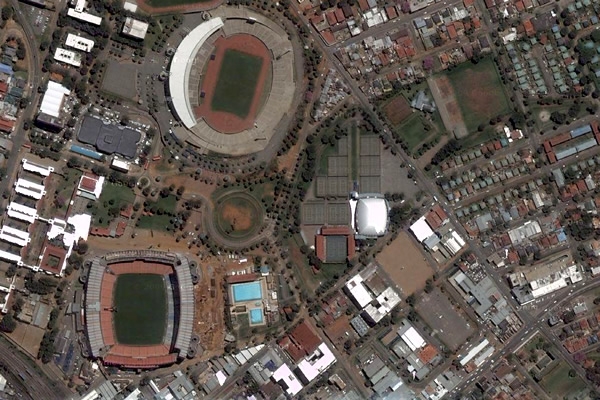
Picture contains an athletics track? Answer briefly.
Yes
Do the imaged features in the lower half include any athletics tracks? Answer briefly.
No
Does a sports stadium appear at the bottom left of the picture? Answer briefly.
Yes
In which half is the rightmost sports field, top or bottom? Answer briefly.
top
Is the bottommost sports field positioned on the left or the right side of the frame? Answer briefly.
left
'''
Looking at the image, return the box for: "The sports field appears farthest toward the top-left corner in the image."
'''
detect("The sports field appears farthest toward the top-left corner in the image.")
[212,49,262,116]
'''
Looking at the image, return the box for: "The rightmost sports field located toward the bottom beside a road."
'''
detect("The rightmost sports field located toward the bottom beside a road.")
[378,231,435,296]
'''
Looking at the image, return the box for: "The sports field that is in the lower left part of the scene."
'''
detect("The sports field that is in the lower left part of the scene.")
[113,273,166,345]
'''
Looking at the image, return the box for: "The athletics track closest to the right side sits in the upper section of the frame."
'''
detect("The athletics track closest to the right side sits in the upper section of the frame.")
[200,34,272,133]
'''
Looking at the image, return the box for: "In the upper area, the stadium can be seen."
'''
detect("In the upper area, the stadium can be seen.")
[160,6,294,157]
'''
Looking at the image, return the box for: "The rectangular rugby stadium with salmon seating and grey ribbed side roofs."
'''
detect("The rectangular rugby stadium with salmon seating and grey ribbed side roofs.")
[78,249,200,368]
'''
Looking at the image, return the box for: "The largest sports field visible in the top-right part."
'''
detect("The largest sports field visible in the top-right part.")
[449,57,512,133]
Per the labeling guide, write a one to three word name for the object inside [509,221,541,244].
shed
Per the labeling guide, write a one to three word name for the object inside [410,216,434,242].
building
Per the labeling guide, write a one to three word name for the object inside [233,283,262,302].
swimming pool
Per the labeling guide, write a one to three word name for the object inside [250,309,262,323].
swimming pool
